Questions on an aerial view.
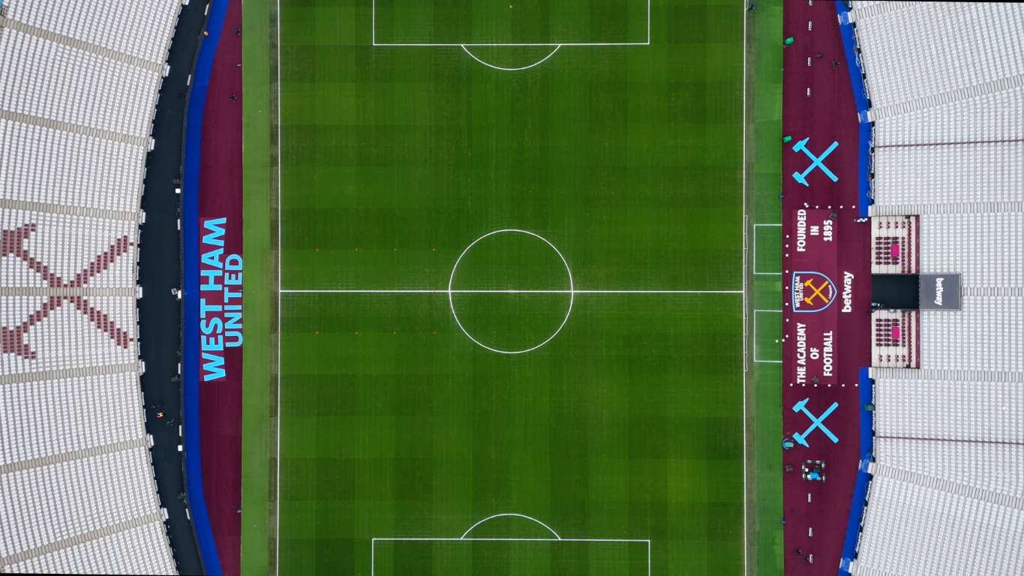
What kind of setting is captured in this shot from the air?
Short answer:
sports ground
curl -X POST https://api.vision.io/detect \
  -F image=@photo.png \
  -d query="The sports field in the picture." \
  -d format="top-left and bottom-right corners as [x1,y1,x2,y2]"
[277,0,783,576]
